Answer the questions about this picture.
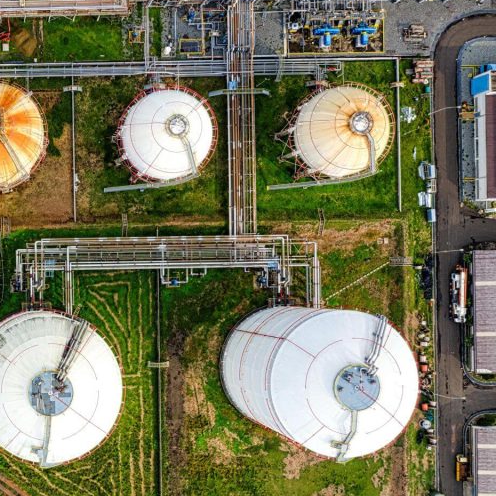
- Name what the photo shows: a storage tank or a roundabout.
storage tank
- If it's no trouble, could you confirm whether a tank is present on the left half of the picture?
Yes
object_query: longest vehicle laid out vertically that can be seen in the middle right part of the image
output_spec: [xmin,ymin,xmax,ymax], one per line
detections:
[441,266,467,324]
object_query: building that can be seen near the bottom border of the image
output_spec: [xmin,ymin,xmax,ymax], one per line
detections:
[465,424,496,496]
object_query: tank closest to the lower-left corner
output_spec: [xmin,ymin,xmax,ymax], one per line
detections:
[0,308,124,469]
